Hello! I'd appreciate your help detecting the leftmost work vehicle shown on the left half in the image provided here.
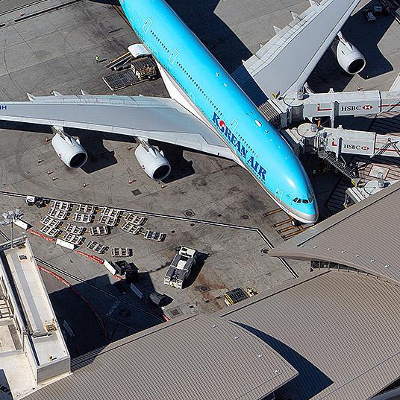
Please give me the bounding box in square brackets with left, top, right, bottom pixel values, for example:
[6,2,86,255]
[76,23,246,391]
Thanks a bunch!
[22,192,43,207]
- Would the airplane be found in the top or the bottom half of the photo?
top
